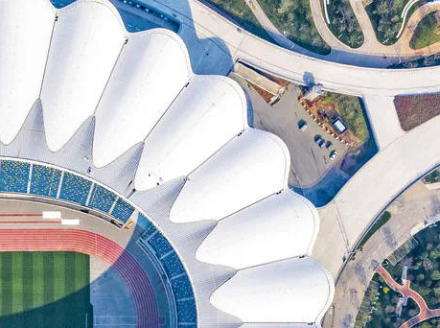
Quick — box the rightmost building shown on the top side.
[328,112,350,136]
